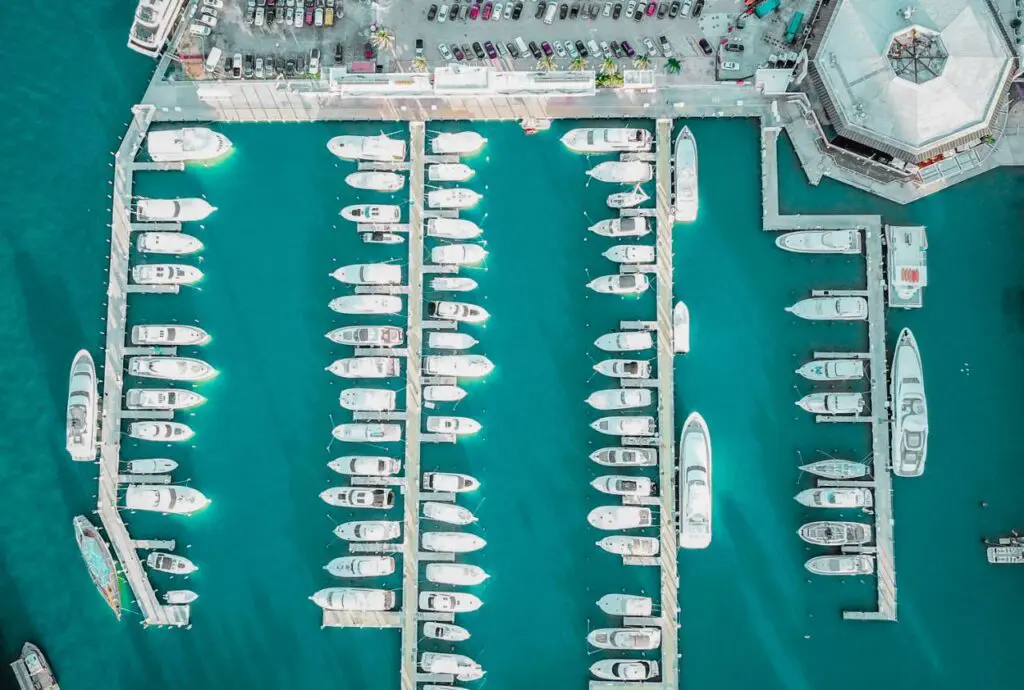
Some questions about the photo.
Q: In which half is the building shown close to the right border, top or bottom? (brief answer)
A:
top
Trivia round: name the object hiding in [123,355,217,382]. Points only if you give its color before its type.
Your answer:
white boat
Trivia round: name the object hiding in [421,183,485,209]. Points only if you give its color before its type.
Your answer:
white boat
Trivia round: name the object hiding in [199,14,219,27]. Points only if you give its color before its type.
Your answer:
white vehicle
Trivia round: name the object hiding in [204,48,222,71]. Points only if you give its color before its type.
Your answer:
white vehicle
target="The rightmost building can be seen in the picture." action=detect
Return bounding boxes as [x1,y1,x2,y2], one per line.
[803,0,1014,166]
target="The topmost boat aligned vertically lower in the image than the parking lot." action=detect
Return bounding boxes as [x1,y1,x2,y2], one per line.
[674,124,698,223]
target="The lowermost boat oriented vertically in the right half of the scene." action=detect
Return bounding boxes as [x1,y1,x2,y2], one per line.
[680,412,712,548]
